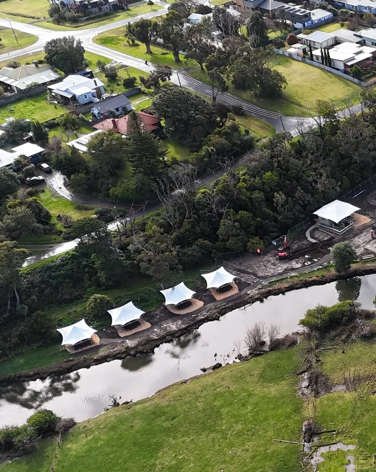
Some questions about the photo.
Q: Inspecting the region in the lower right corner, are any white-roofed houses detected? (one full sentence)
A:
No, no white-roofed house is visible in the lower right corner.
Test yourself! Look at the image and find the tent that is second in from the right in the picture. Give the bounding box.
[197,265,241,297]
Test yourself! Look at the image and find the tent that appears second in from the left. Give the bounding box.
[99,300,152,334]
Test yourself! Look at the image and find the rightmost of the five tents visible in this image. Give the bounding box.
[309,200,367,235]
